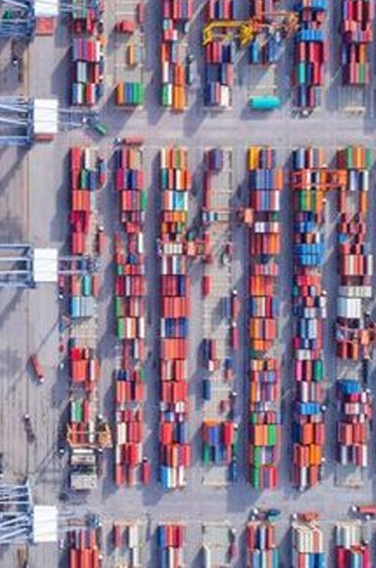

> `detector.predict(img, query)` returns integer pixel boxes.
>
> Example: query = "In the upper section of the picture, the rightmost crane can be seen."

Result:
[289,168,349,192]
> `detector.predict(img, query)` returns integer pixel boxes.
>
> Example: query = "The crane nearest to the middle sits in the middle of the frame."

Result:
[156,238,209,260]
